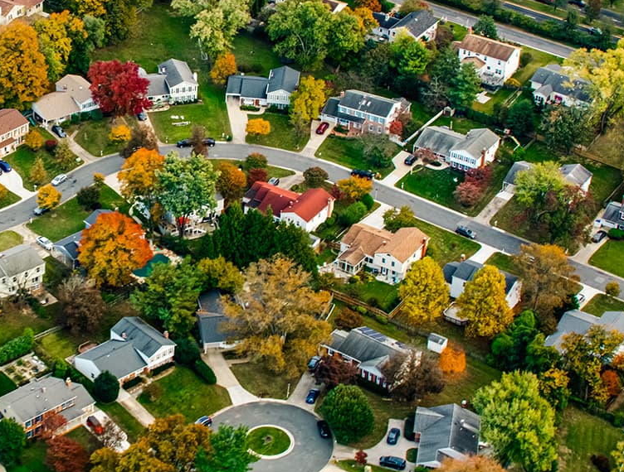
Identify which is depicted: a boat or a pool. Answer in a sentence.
I can see a pool in this picture.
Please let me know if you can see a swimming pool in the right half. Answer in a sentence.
No, I see no swimming pool in the right half.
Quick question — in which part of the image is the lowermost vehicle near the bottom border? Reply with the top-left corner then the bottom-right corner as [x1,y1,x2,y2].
[377,452,409,472]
